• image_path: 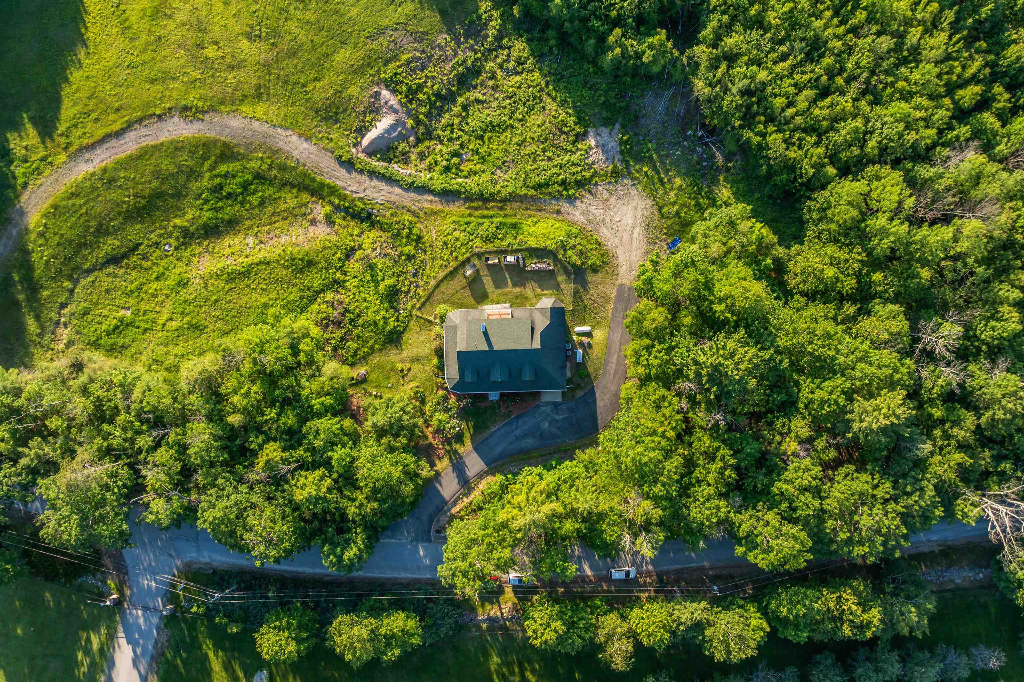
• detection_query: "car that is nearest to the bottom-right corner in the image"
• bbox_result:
[608,563,634,577]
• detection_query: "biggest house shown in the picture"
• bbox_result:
[443,296,572,398]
